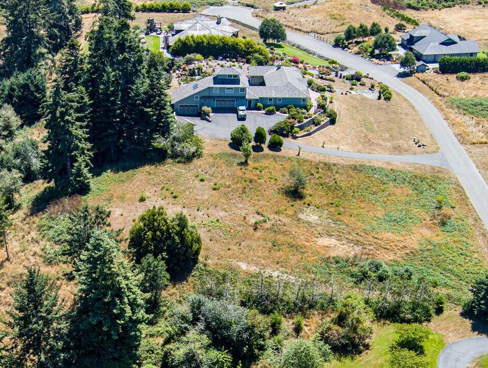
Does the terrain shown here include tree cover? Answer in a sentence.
Yes, tree cover can be seen from above here.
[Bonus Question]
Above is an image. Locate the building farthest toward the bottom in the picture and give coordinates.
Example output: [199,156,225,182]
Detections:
[167,67,310,114]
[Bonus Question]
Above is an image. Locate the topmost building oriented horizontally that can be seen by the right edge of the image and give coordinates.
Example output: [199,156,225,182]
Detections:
[370,25,481,60]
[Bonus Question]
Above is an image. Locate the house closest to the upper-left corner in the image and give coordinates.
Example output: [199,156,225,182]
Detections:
[153,8,240,45]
